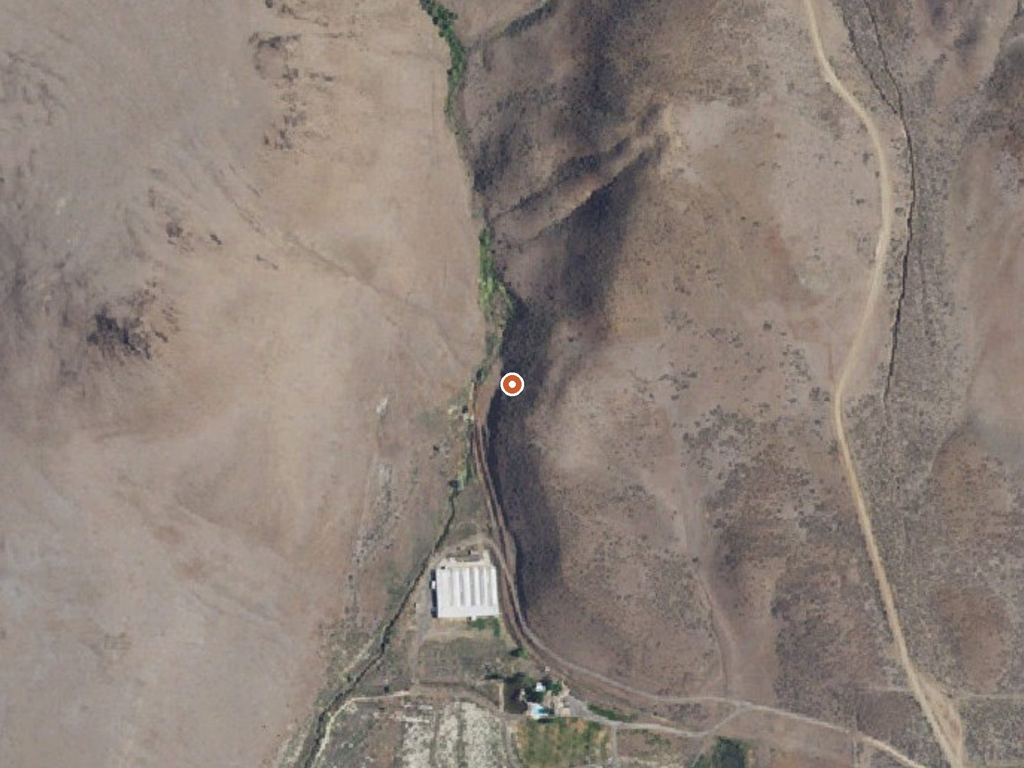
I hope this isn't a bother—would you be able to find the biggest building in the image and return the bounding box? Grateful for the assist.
[432,564,500,620]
